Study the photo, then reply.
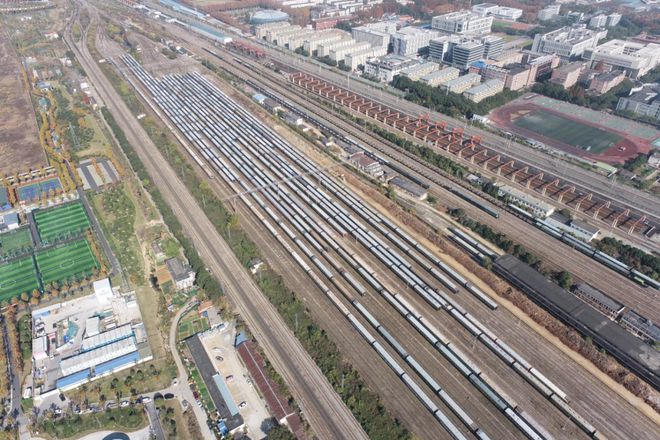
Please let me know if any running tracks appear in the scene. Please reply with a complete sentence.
Yes, the photo shows a running track.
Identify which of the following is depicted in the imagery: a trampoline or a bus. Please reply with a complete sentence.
It is a bus that can be seen here.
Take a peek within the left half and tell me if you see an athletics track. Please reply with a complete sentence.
No, there is no athletics track within the left half.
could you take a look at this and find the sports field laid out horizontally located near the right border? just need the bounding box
[516,111,631,151]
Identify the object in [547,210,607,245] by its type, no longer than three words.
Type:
building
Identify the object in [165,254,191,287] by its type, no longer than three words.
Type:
house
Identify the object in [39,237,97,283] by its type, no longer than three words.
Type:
soccer field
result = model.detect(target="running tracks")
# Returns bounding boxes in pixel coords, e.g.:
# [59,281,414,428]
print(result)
[500,106,650,160]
